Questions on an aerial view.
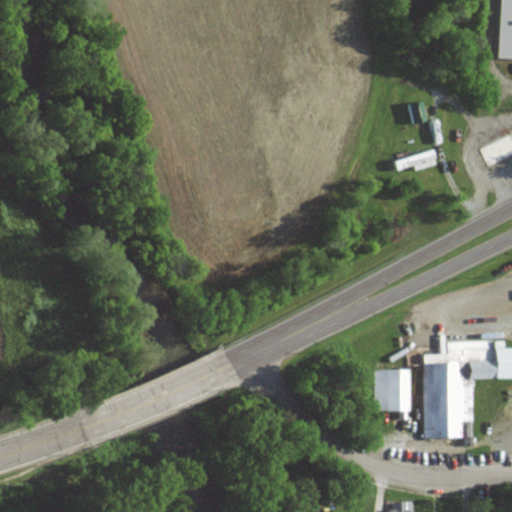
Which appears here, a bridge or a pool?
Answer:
bridge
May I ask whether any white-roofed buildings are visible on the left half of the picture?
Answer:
No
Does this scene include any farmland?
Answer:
Yes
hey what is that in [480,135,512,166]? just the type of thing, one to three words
building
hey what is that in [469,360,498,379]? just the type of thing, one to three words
building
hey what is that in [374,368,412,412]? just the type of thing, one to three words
shed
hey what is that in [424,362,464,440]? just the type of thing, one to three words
barn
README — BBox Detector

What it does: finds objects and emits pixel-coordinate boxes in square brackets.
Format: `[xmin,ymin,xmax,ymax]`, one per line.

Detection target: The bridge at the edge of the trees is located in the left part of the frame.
[79,345,241,447]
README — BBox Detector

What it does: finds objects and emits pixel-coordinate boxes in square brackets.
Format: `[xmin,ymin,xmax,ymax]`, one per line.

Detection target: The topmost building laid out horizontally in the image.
[394,148,437,172]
